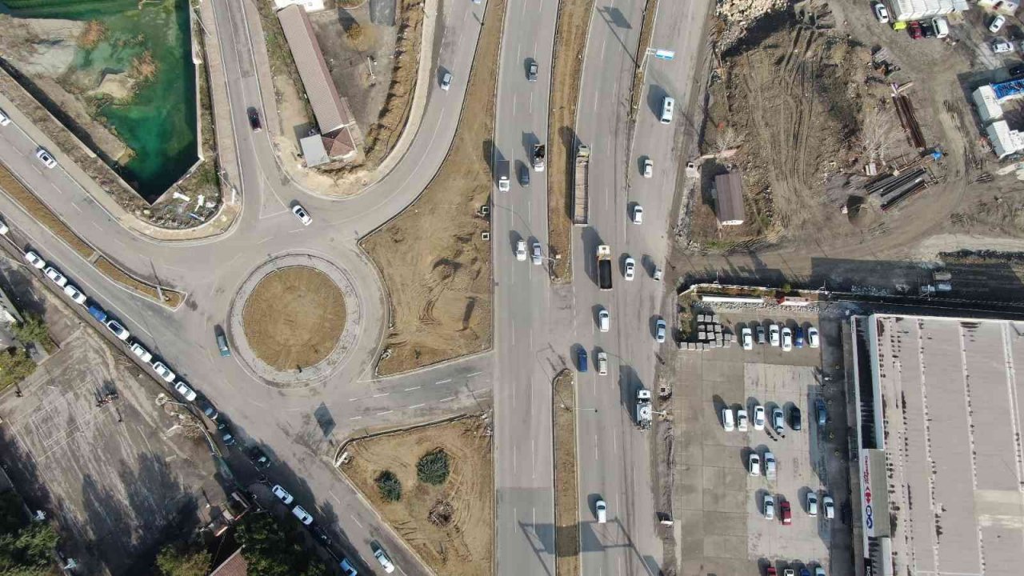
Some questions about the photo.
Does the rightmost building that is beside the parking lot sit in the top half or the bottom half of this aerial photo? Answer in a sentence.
The bottom half of the photo is where the rightmost building that is beside the parking lot is.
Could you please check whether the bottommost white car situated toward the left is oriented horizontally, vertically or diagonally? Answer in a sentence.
Seen from above, the bottommost white car situated toward the left lies diagonally.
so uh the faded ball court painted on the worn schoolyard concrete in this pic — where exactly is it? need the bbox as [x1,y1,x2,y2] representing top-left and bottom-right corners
[8,376,122,462]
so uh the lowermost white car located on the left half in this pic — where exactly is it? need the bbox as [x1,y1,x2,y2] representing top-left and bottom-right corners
[373,548,395,573]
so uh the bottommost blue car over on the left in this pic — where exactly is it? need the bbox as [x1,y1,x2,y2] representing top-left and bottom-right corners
[338,556,359,576]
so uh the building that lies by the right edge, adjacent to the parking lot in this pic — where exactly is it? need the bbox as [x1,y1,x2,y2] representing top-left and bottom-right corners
[826,314,1024,576]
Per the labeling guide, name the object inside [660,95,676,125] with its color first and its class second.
white vehicle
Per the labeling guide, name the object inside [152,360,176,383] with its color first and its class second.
white car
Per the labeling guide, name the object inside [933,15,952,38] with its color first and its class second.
white vehicle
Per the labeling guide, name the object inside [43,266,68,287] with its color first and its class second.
white car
